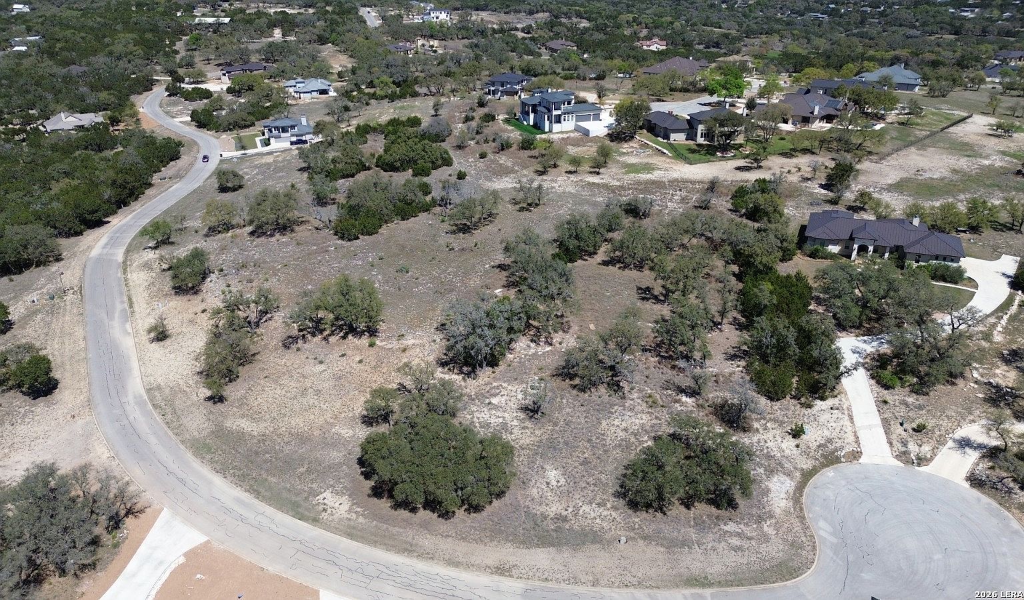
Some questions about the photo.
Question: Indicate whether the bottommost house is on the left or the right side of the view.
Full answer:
The bottommost house sits on the right side.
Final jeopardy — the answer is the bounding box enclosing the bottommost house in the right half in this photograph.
[804,199,970,264]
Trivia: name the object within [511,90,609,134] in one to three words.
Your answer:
house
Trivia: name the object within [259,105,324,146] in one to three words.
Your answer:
house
